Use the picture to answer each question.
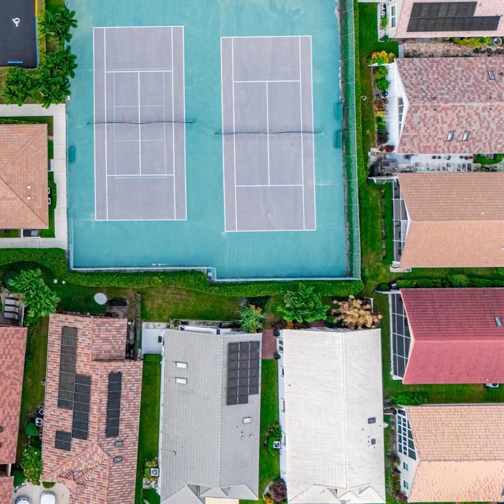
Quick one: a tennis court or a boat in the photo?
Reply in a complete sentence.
Of the two, only a tennis court appears.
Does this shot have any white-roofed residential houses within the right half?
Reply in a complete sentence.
Yes, a white-roofed residential house can be seen within the right half.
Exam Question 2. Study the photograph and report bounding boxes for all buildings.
[394,288,504,385]
[389,0,504,38]
[392,173,504,268]
[282,328,387,504]
[400,403,504,504]
[159,329,262,504]
[41,314,144,504]
[0,124,48,229]
[0,326,27,504]
[394,57,504,153]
